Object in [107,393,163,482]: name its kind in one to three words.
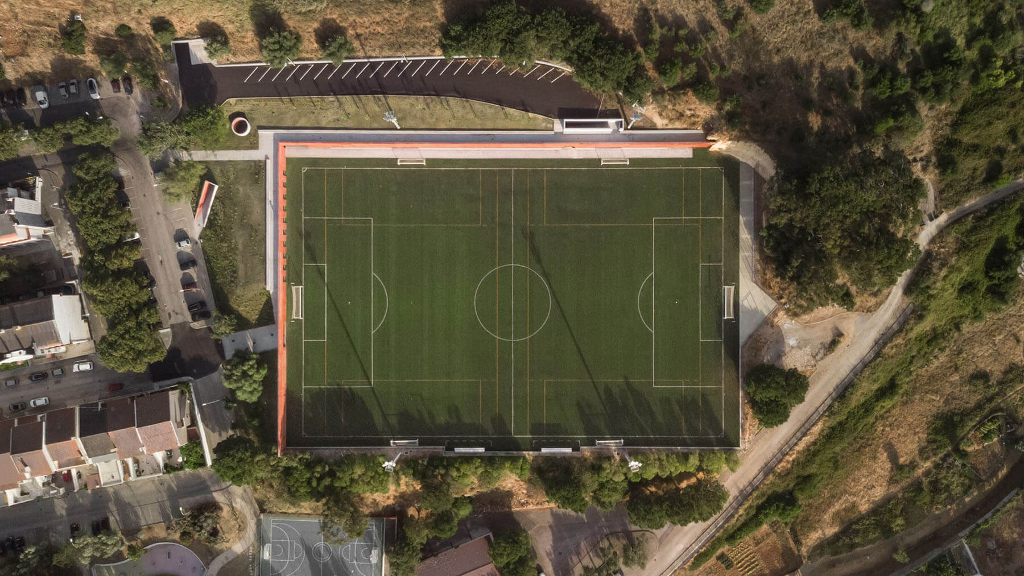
house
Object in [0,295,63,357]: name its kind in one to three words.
house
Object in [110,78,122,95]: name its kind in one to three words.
vehicle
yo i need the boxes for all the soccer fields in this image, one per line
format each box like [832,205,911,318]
[284,147,740,452]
